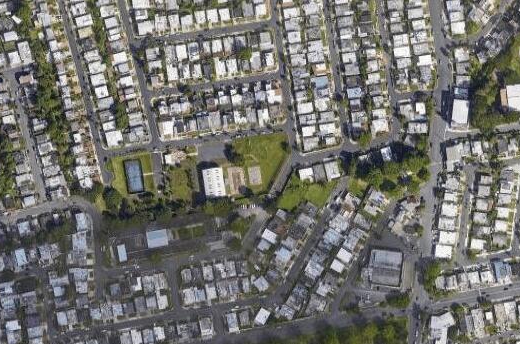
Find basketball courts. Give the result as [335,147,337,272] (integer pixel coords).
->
[249,166,262,185]
[123,158,145,194]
